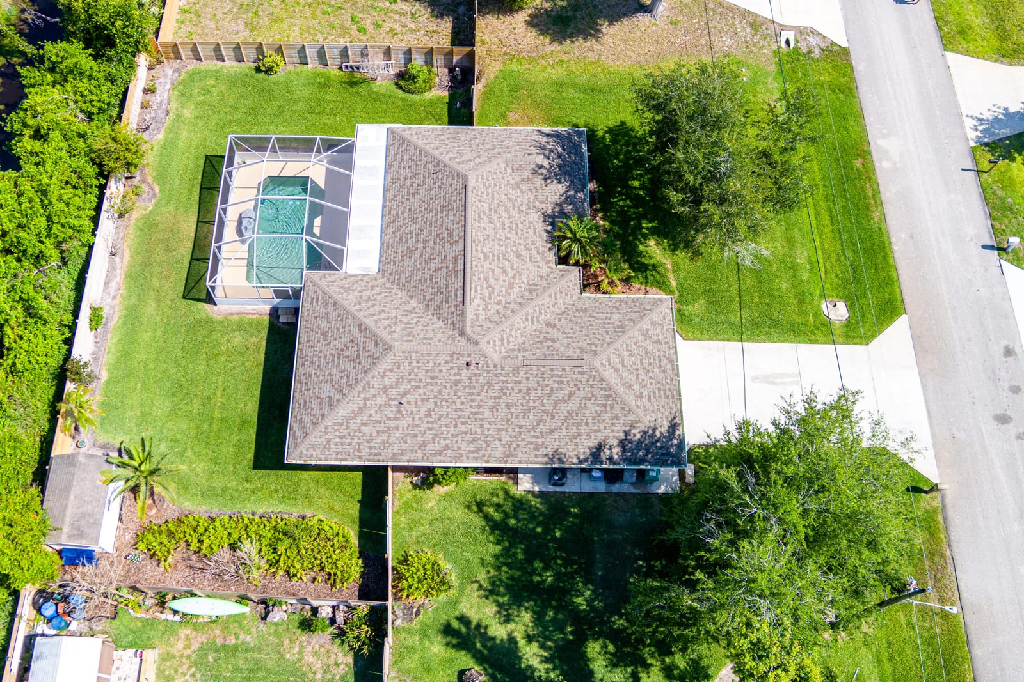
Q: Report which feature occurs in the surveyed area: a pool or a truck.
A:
pool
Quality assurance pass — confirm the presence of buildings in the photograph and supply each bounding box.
[283,123,689,471]
[27,637,119,682]
[50,451,127,554]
